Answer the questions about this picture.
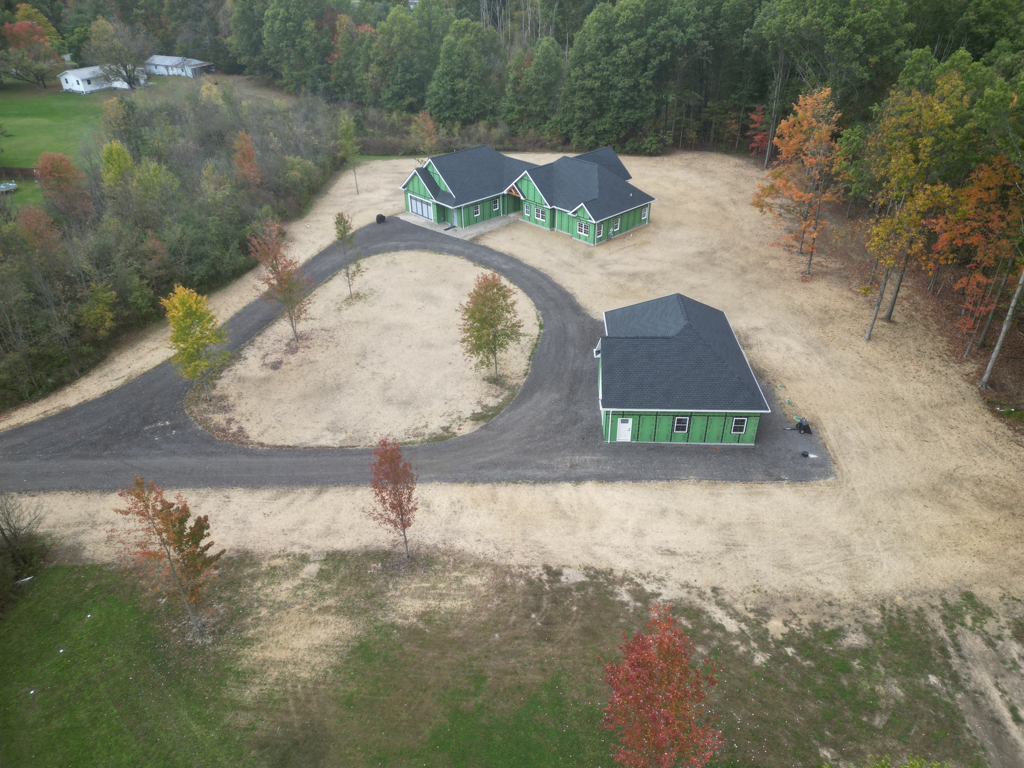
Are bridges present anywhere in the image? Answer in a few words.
No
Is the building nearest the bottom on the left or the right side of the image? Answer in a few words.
right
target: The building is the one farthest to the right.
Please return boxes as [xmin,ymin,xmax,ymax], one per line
[596,293,771,445]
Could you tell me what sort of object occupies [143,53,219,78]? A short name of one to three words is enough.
barn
